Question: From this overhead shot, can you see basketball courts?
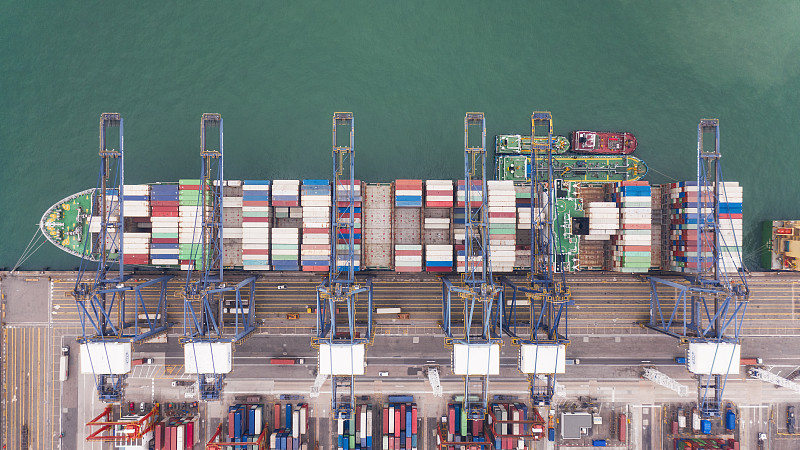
No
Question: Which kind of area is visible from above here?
port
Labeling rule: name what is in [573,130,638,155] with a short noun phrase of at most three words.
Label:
boat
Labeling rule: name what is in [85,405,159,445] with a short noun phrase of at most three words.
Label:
container crane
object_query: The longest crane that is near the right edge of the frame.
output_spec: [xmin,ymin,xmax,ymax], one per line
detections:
[633,120,760,422]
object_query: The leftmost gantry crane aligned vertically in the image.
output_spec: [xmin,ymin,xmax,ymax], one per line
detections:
[62,113,185,405]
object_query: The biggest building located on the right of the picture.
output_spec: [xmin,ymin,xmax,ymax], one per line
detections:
[558,408,592,439]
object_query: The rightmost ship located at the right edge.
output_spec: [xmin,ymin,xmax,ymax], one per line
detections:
[762,220,800,270]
